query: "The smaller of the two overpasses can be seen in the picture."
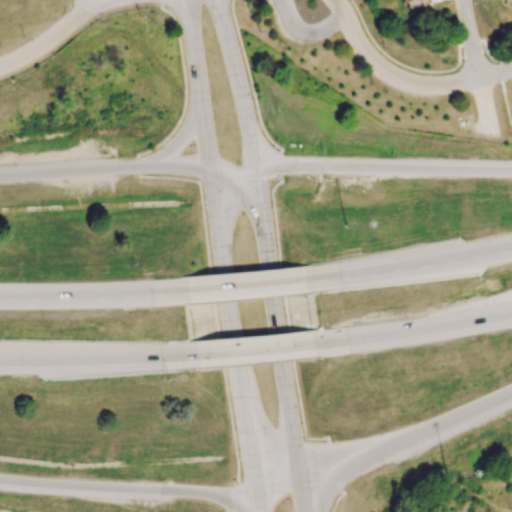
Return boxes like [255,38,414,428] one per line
[187,265,317,304]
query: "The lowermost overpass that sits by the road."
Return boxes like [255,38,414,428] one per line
[192,329,326,370]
